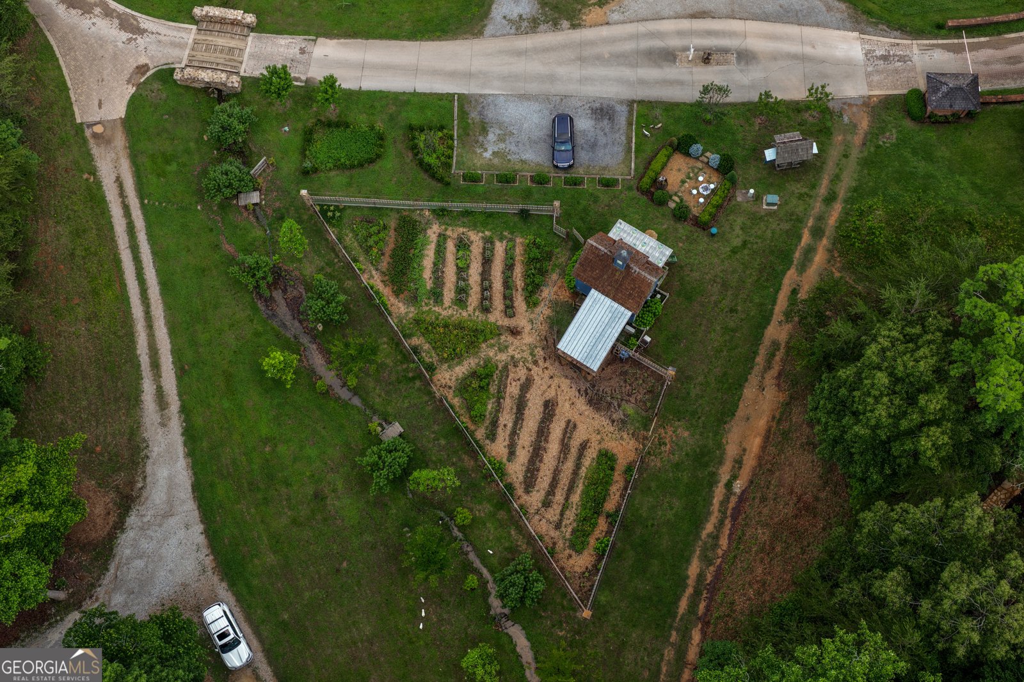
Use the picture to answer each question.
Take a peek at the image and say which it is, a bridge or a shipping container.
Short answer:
bridge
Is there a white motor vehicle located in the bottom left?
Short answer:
Yes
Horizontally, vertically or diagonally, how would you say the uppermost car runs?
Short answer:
vertically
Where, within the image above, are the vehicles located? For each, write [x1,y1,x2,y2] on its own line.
[204,601,252,674]
[550,114,577,168]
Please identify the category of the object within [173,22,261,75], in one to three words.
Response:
bridge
